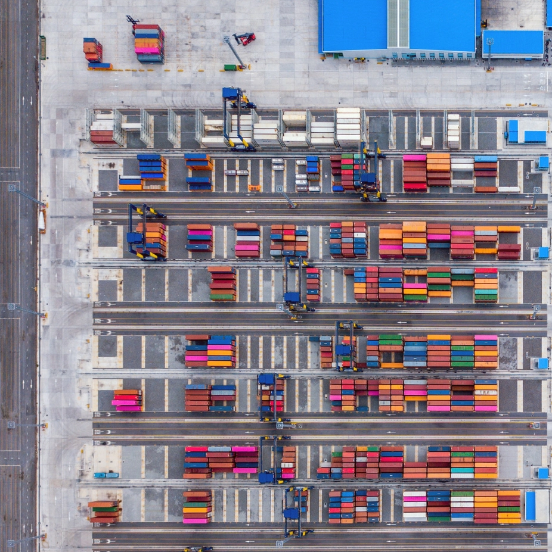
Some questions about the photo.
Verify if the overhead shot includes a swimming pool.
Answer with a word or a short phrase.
No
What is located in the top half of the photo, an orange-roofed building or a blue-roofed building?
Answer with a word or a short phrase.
blue-roofed building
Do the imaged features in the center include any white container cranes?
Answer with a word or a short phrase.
No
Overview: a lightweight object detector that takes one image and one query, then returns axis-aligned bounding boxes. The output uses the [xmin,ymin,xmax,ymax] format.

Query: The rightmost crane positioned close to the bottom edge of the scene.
[281,485,313,537]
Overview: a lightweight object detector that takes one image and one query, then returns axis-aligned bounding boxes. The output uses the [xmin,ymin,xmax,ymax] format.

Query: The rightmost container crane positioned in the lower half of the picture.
[334,320,363,373]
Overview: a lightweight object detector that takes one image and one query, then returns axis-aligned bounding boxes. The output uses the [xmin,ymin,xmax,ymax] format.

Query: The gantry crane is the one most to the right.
[360,141,387,201]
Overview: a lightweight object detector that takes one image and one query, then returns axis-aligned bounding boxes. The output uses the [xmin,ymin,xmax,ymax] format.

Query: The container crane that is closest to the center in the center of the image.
[282,256,315,311]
